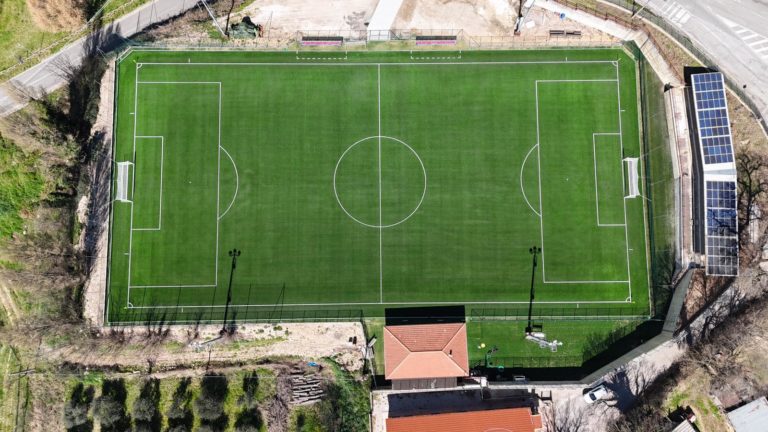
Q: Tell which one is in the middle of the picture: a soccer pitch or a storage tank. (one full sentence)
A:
Visible in the middle of the picture is a soccer pitch.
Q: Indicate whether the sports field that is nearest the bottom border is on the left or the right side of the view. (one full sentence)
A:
You can find the sports field that is nearest the bottom border on the right side of the picture.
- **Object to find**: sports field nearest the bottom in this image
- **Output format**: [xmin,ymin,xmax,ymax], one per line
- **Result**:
[363,317,664,386]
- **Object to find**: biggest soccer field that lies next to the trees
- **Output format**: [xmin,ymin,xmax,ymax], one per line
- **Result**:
[107,47,653,323]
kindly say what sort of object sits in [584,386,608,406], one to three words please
car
